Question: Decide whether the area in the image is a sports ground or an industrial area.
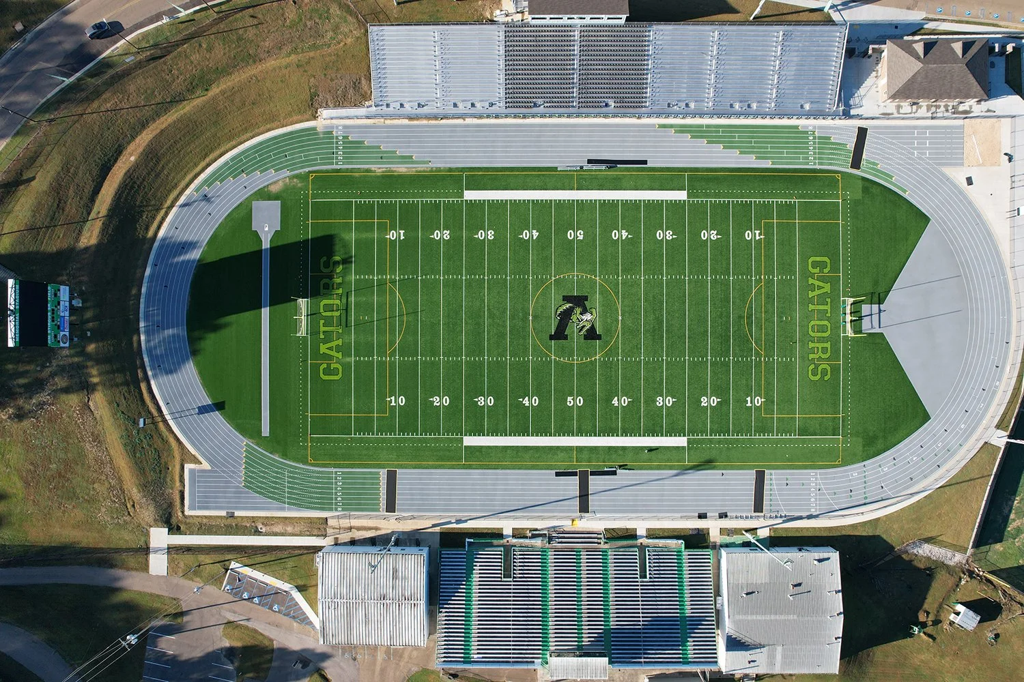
sports ground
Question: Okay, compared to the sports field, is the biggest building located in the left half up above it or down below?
below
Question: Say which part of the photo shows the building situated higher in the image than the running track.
top right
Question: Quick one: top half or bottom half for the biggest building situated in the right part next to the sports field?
bottom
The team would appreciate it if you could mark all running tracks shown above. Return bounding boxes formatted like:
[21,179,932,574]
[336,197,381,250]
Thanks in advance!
[145,124,1011,512]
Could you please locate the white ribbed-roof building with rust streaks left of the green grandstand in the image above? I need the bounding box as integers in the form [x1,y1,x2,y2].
[318,546,429,646]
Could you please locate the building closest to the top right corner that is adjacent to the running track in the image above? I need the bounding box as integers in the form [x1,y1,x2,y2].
[881,39,988,103]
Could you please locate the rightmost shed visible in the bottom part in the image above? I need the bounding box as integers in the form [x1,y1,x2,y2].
[944,598,982,631]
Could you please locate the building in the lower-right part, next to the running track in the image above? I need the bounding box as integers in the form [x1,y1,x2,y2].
[719,547,853,674]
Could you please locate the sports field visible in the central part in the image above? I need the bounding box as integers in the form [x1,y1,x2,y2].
[190,168,929,468]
